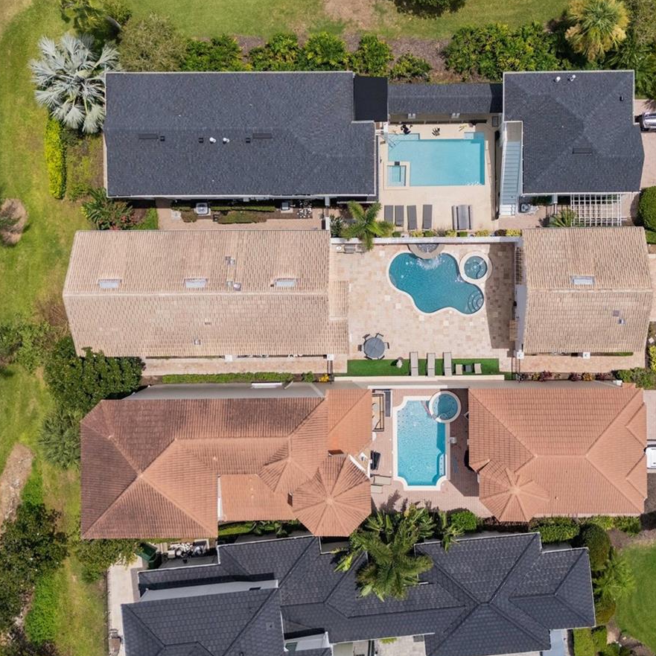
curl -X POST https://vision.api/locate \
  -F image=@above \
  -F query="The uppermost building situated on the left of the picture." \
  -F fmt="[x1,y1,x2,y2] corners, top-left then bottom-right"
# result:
[102,71,388,211]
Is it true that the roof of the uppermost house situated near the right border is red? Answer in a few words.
No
